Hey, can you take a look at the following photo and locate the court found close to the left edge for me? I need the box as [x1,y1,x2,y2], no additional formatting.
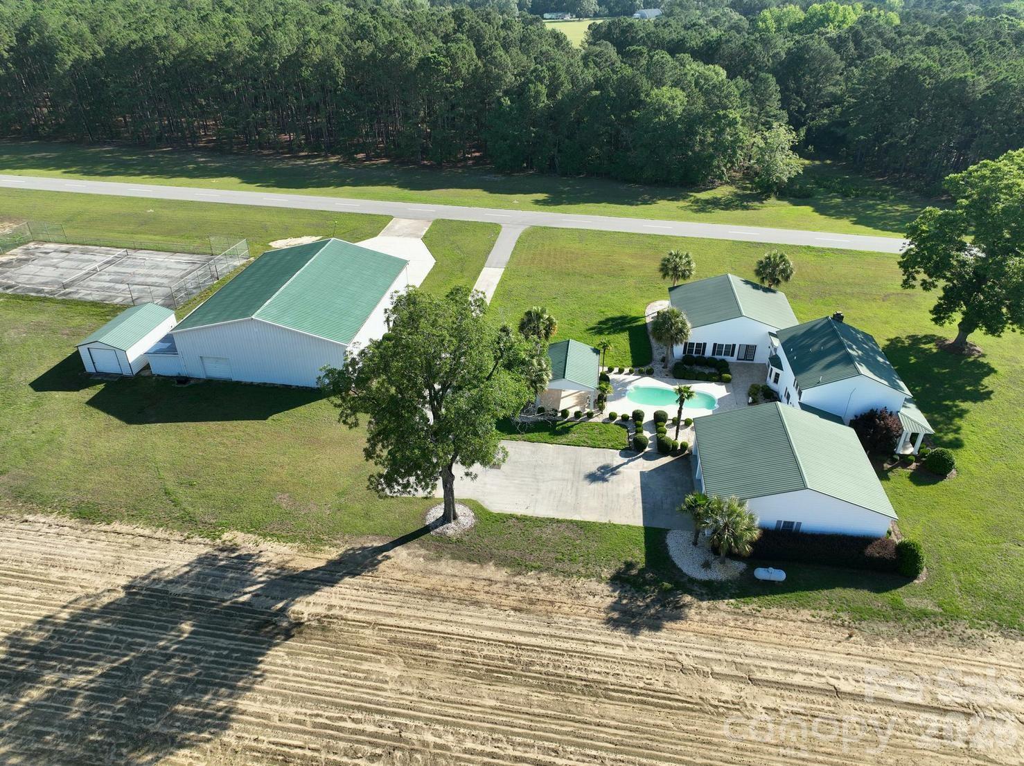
[0,239,247,310]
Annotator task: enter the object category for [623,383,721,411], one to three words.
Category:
swimming pool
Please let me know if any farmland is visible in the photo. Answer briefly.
Yes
